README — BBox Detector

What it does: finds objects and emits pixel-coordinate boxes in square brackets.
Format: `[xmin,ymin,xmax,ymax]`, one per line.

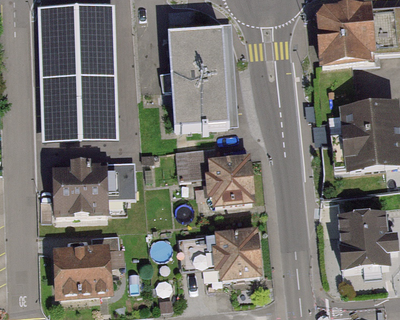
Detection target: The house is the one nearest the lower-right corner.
[338,212,399,282]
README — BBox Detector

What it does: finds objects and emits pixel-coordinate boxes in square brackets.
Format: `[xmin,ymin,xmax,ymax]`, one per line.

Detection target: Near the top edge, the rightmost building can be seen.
[316,0,400,72]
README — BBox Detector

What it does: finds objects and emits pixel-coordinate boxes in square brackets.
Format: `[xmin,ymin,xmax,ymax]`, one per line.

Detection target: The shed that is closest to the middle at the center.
[176,151,204,186]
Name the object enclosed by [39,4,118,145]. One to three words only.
building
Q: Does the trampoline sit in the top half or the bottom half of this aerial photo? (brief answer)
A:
bottom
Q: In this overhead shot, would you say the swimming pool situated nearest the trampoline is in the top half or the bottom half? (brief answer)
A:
bottom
